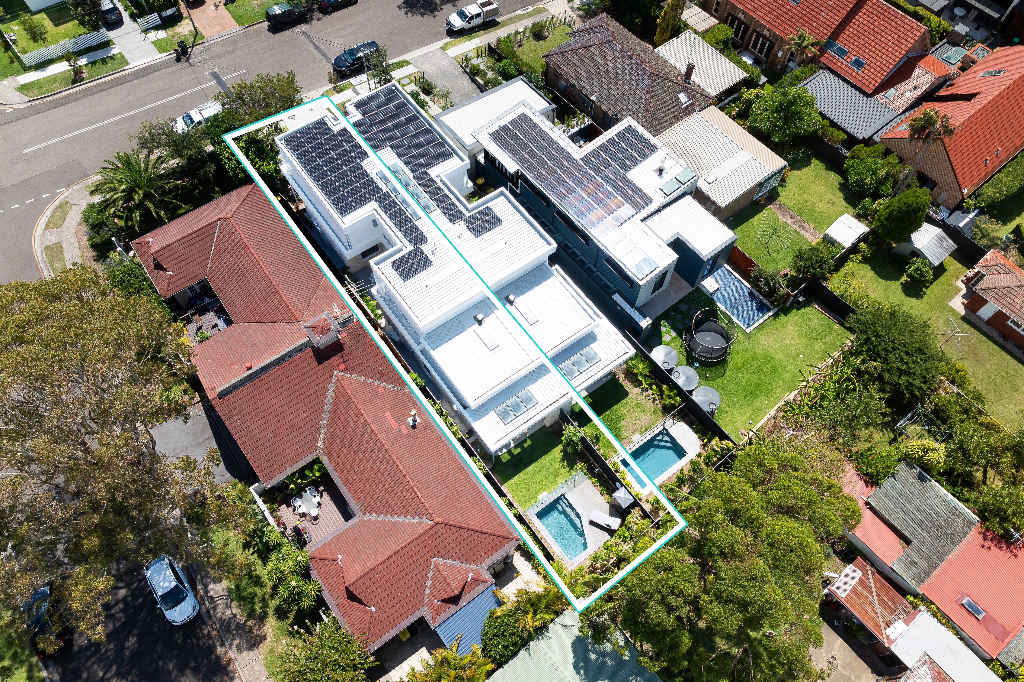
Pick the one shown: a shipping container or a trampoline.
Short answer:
trampoline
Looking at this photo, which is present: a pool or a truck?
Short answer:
pool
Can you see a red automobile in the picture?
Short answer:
No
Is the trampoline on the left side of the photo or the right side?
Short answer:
right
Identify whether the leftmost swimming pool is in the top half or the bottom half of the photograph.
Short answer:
bottom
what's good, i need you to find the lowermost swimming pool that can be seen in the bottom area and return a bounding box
[528,487,593,568]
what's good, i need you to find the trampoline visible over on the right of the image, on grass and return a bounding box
[684,307,739,365]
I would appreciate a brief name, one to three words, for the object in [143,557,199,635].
car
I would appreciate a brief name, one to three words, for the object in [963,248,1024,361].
house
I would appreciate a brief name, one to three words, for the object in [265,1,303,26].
car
